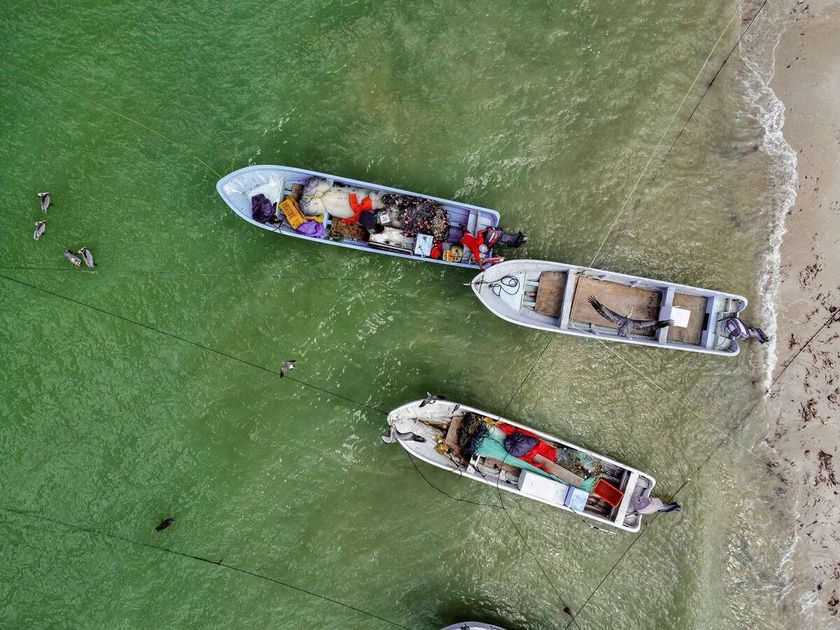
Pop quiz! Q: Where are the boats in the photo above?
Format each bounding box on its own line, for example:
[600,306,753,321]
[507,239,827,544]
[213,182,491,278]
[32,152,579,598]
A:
[436,618,518,630]
[470,257,773,356]
[217,162,529,269]
[386,402,684,530]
